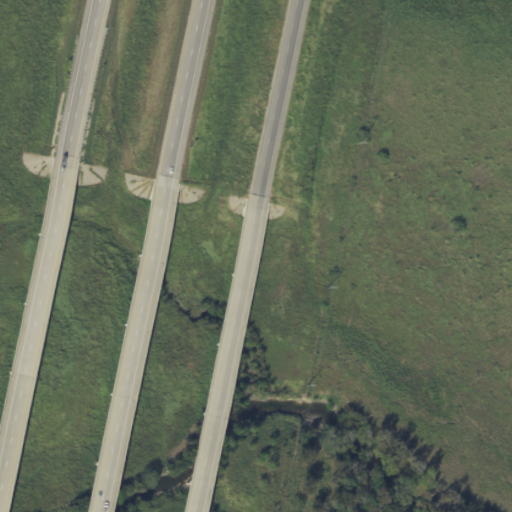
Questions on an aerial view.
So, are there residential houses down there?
No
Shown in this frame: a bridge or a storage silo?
bridge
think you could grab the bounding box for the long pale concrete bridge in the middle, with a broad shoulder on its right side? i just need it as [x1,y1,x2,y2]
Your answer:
[90,174,181,512]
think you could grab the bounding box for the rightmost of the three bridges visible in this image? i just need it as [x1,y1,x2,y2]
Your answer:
[185,193,273,512]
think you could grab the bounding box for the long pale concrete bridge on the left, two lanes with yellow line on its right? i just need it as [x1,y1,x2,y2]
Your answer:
[0,154,80,512]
